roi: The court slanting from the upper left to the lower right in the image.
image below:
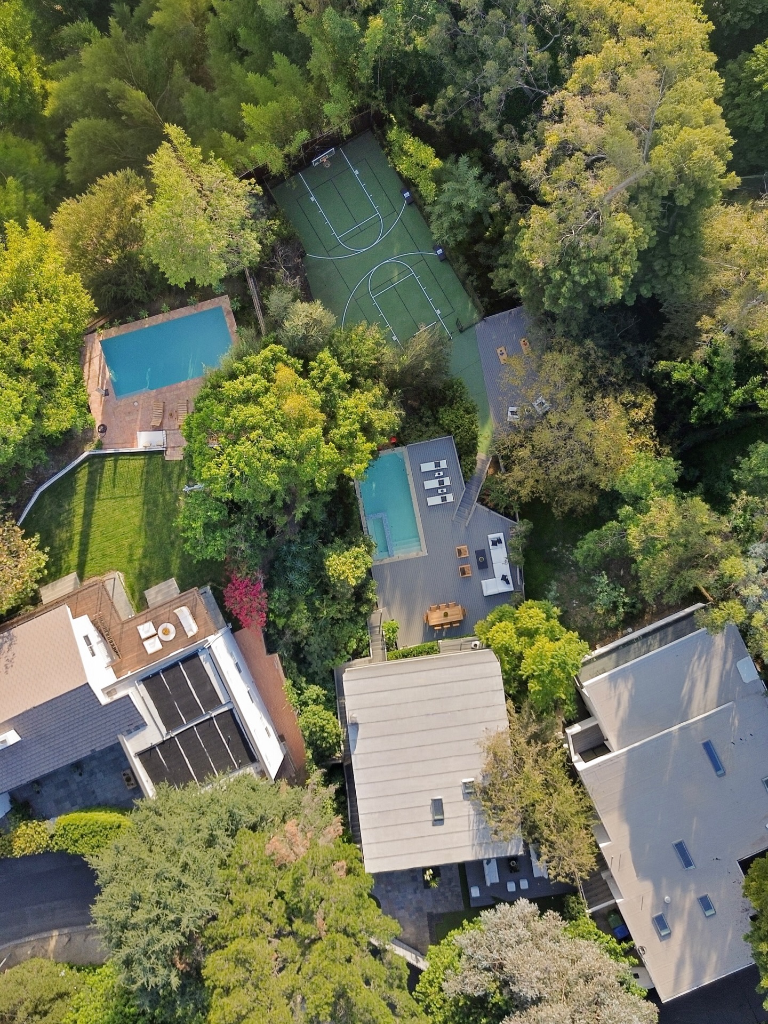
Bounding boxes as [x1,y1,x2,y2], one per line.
[271,133,491,456]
